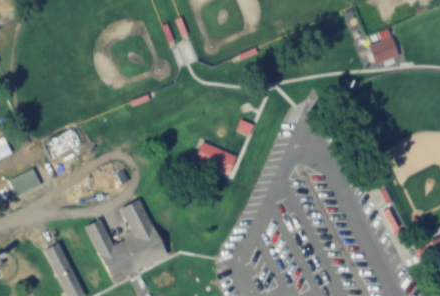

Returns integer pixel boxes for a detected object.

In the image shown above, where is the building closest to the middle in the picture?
[200,142,238,176]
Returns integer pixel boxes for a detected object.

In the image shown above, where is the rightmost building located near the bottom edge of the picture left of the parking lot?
[84,198,168,284]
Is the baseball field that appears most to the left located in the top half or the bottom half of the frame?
top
